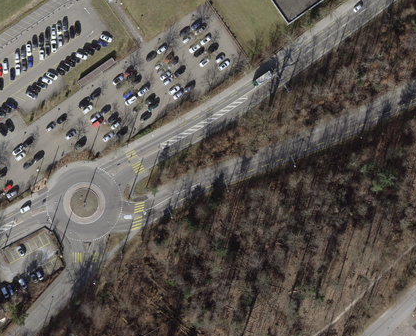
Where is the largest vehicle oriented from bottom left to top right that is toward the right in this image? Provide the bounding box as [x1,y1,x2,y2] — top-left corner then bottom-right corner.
[251,70,274,88]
